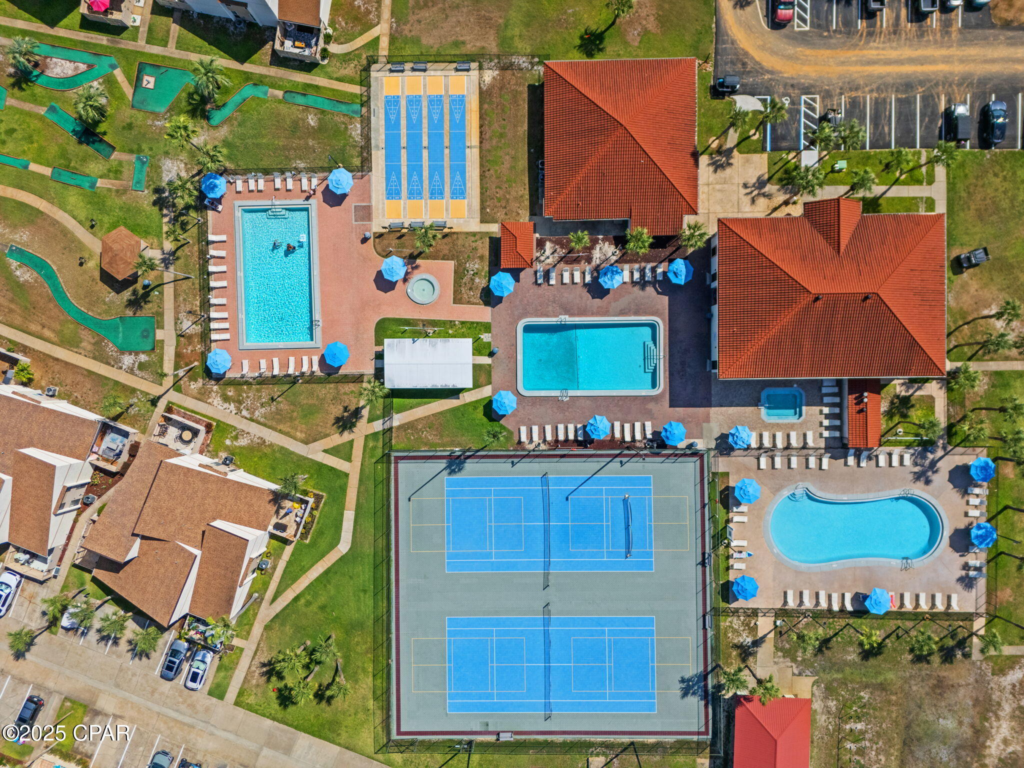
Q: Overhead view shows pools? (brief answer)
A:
Yes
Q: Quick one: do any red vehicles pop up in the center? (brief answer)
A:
No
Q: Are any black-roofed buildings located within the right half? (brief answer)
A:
No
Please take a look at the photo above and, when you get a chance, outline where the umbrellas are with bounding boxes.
[585,416,610,441]
[329,169,355,196]
[326,343,351,368]
[487,270,513,297]
[732,479,759,505]
[663,420,688,446]
[203,174,229,200]
[966,457,994,483]
[668,258,694,284]
[598,266,623,291]
[966,521,995,547]
[381,255,406,280]
[492,389,517,414]
[730,574,757,600]
[208,350,233,375]
[726,423,753,450]
[864,589,889,613]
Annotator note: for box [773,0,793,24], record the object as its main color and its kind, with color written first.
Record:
red car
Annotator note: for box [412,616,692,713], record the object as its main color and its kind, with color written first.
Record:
blue tennis court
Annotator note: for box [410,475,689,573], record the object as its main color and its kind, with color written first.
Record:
blue tennis court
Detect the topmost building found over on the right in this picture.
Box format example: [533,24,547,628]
[543,56,700,239]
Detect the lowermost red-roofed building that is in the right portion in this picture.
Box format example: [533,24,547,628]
[730,690,812,768]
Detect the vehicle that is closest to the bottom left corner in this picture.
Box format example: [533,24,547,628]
[11,697,41,741]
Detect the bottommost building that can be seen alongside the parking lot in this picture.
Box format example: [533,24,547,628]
[706,197,948,379]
